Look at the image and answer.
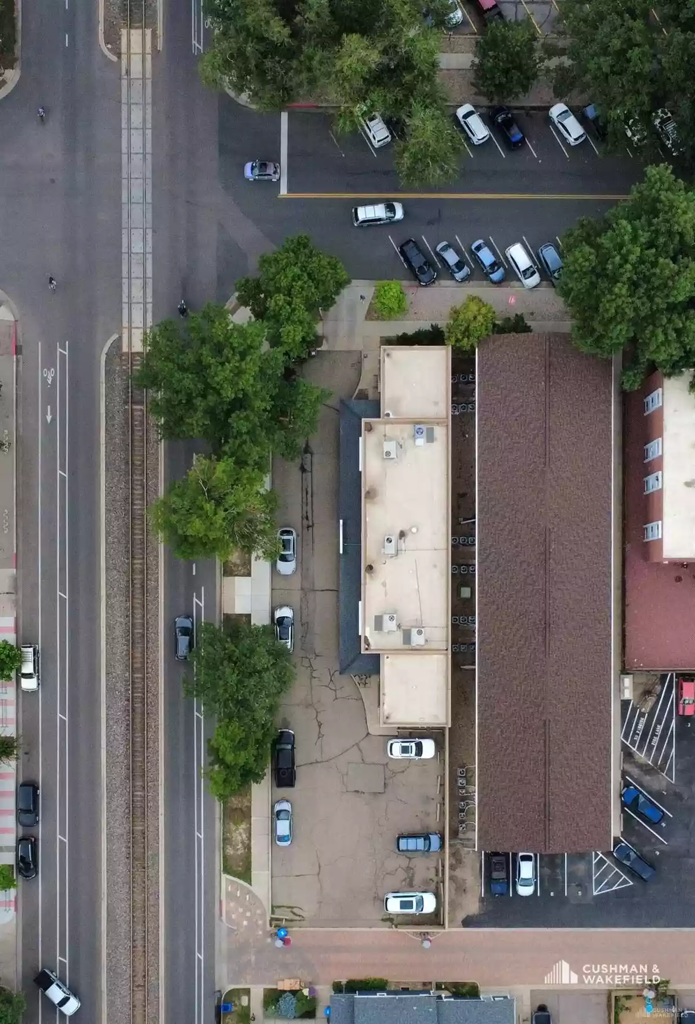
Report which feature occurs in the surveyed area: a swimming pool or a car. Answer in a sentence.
I can see a car in this picture.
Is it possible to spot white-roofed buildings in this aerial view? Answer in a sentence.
Yes, you can see a white-roofed building in this photo.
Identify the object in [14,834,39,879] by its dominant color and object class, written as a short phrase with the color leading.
black car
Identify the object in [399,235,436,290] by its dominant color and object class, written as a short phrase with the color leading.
black car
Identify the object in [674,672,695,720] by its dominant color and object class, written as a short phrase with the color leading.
red truck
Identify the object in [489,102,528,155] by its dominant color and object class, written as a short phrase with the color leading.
black truck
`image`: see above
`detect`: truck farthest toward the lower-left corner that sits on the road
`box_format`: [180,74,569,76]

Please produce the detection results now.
[28,967,81,1017]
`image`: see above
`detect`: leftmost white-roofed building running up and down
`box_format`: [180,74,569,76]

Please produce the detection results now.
[338,346,451,726]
